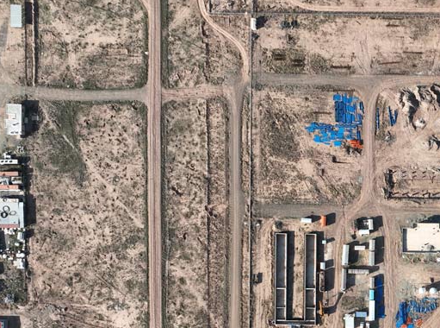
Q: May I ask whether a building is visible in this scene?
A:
Yes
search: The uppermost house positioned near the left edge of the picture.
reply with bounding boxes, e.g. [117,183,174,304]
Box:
[6,104,26,139]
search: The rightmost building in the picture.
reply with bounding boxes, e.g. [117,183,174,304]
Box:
[403,223,440,253]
